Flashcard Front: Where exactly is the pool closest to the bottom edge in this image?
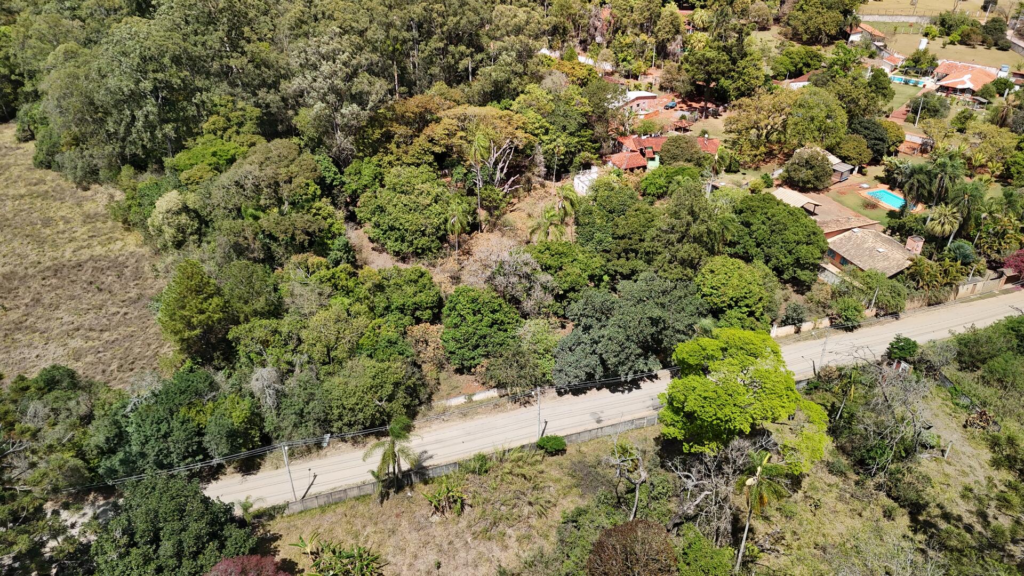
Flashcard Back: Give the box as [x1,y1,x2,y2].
[858,183,921,212]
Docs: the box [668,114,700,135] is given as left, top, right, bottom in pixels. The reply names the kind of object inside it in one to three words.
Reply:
gazebo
